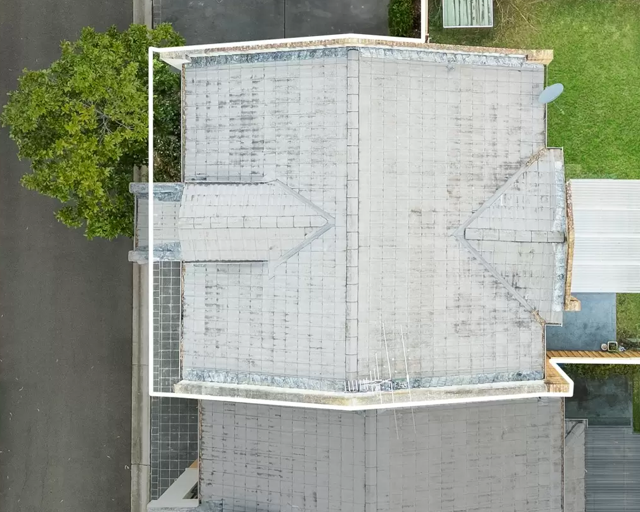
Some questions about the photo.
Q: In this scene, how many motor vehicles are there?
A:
0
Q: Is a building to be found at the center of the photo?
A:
Yes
